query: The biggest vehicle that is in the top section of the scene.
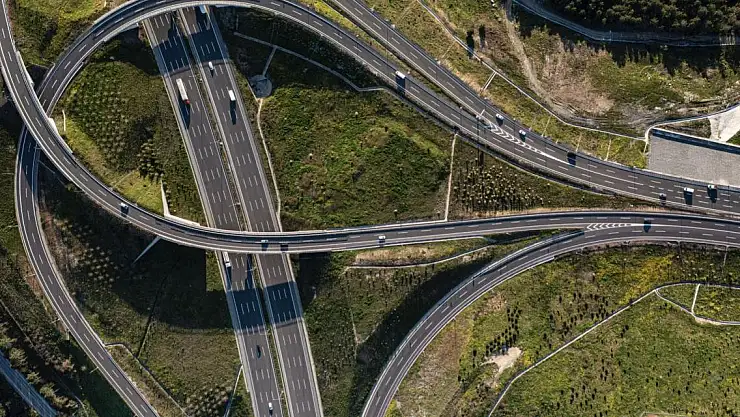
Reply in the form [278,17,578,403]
[176,76,189,103]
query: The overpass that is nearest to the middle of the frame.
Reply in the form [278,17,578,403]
[184,221,325,259]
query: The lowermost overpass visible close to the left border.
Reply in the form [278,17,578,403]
[13,85,64,145]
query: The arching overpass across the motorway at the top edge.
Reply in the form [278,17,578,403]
[134,0,230,28]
